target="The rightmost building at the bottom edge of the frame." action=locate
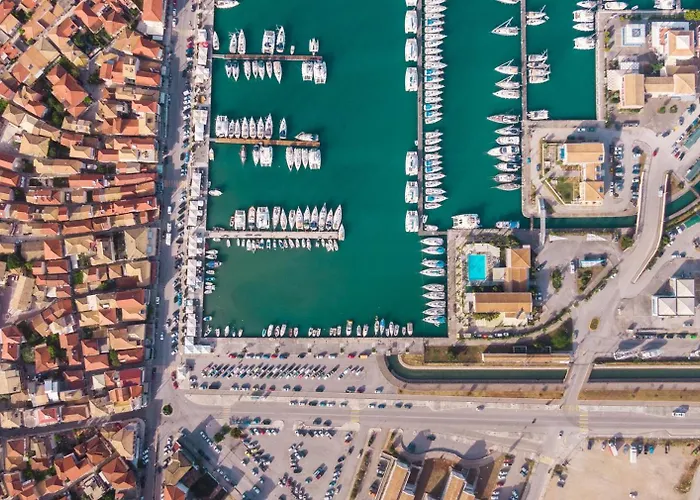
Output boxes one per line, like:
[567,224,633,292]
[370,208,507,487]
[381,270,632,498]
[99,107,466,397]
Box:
[439,460,481,500]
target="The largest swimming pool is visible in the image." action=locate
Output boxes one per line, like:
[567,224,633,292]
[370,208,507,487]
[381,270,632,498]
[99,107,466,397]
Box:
[464,242,500,288]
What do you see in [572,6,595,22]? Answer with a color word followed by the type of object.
white boat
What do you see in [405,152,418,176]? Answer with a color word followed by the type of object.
white boat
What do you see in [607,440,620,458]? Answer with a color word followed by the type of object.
white vehicle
